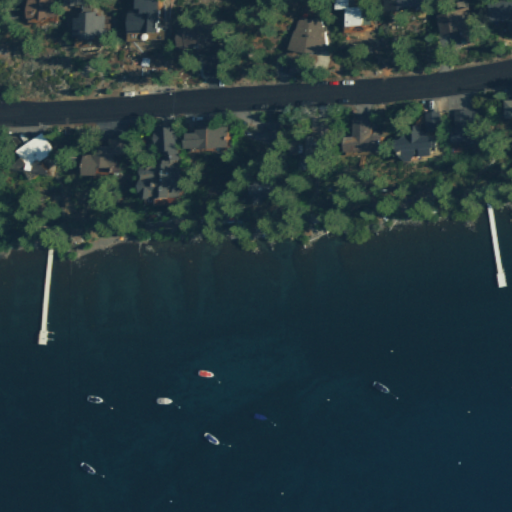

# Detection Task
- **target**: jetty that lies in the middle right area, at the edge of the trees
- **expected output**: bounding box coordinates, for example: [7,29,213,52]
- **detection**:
[488,206,506,288]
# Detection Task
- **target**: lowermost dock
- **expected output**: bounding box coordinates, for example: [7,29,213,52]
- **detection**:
[39,251,54,344]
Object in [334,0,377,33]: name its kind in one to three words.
house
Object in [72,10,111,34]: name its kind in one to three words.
house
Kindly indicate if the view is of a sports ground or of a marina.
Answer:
marina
